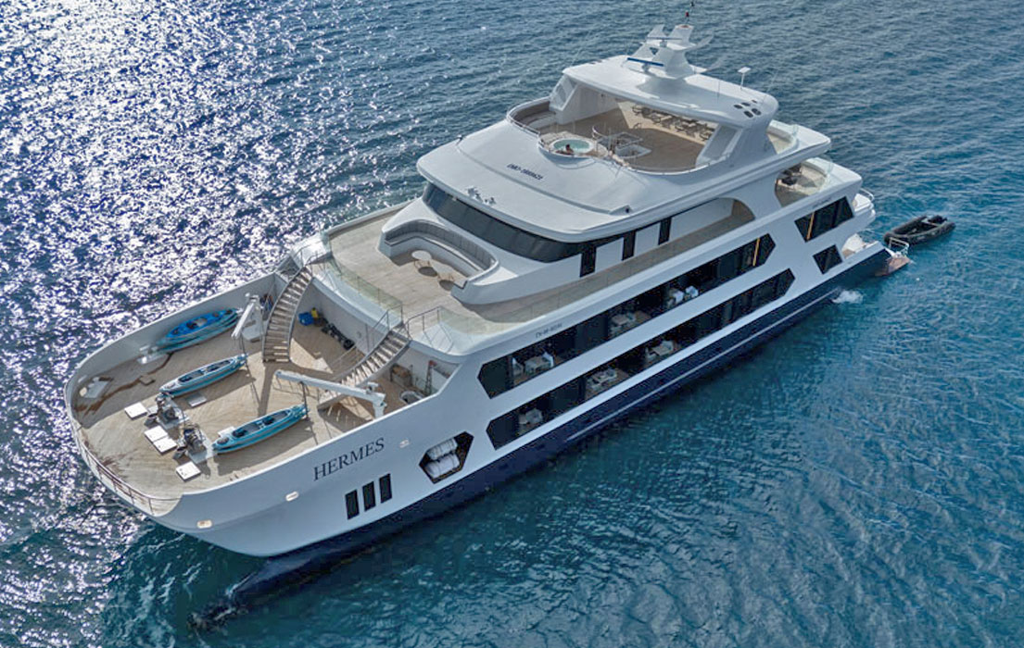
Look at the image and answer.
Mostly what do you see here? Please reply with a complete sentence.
What you mostly see from above here is water.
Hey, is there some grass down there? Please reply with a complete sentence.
No, there is no grass in the image.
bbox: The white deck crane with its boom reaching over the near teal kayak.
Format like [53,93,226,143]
[277,369,397,420]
